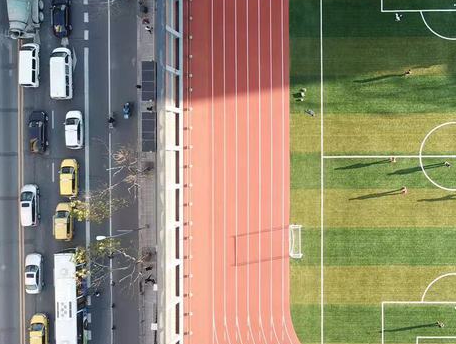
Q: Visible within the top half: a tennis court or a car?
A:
car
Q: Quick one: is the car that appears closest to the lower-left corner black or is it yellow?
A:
yellow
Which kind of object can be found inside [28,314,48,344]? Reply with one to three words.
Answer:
car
